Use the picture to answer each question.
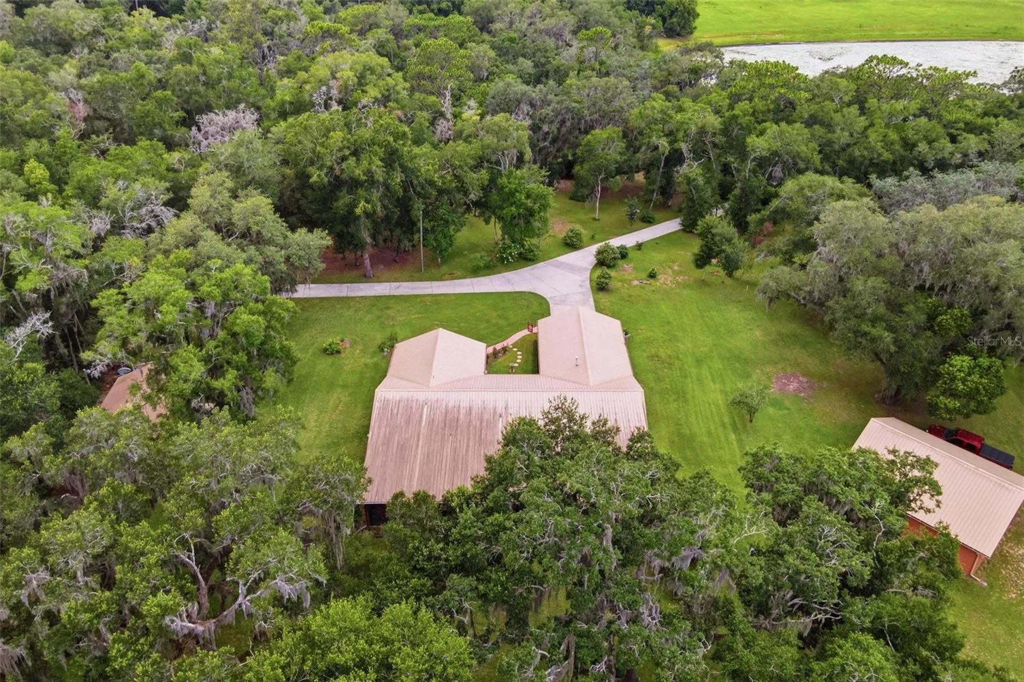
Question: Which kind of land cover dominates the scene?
trees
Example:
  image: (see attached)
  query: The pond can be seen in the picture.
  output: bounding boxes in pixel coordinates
[717,41,1024,106]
